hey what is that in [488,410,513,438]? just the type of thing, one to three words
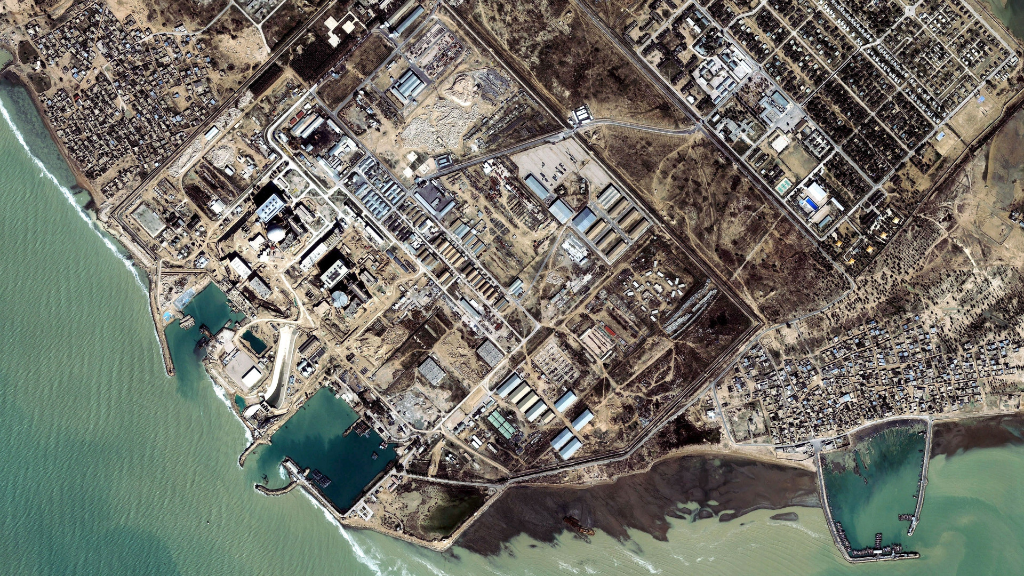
greenhouse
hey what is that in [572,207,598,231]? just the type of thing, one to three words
building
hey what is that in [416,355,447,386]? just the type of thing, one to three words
building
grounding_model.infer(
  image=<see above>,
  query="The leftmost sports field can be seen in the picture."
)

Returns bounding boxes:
[779,141,820,180]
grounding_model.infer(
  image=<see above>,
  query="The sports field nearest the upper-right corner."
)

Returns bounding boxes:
[950,97,997,141]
